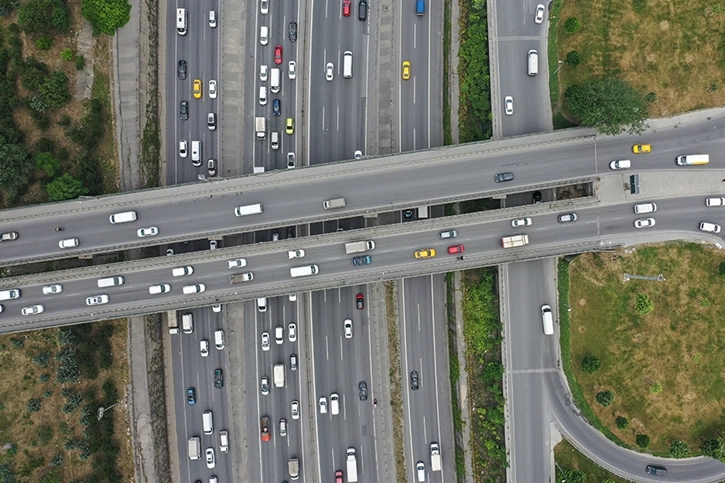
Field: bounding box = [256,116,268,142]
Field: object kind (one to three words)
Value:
vehicle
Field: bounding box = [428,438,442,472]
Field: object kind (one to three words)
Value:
vehicle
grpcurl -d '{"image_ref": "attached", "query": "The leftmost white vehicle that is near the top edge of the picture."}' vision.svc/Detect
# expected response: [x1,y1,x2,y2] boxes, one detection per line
[176,8,190,38]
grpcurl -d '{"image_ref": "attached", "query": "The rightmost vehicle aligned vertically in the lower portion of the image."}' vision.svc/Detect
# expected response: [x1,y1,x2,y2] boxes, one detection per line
[538,303,555,335]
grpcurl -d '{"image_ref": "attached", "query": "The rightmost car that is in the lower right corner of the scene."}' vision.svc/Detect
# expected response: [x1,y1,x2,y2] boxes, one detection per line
[644,464,668,477]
